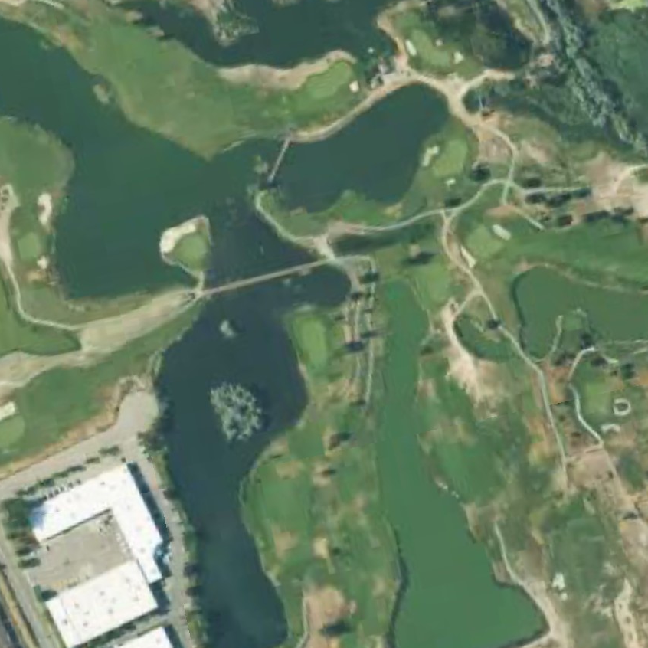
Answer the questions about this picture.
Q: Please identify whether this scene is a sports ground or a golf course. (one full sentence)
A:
What you see here is a golf course.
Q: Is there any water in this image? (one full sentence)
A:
Yes, some water is visible.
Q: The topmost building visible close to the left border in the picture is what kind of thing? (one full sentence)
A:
I'd say the topmost building visible close to the left border is a warehouse.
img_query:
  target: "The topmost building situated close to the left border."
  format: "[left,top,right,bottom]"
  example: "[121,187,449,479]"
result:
[31,465,162,583]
